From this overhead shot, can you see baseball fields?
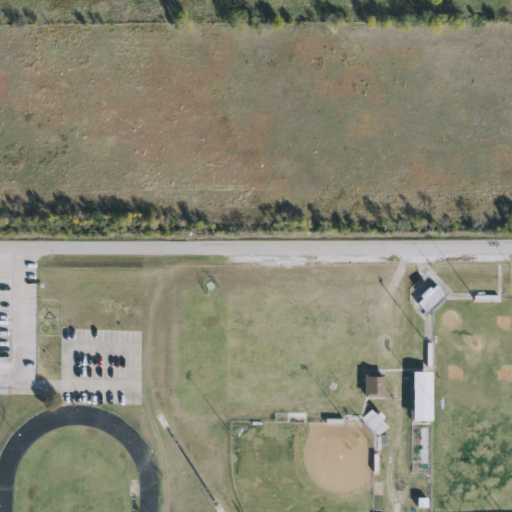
Yes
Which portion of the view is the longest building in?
bottom right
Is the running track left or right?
left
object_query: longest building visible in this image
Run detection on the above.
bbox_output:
[415,372,436,422]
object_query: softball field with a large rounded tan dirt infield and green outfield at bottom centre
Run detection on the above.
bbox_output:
[232,422,374,512]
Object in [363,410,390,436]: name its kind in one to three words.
building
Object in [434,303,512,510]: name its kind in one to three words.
baseball field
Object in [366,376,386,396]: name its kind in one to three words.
house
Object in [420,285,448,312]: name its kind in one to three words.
building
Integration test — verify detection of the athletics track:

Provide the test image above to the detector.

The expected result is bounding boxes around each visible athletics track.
[0,406,160,512]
